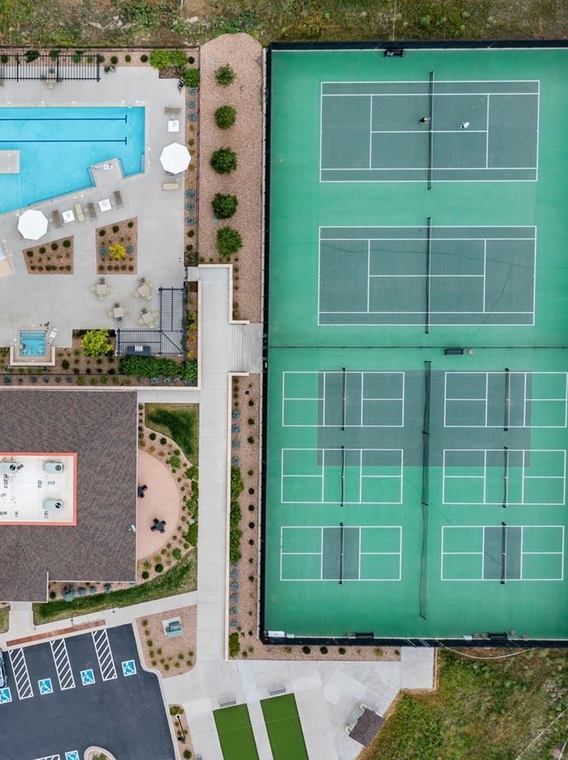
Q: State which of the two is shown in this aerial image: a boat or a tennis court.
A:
tennis court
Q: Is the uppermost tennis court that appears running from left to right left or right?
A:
right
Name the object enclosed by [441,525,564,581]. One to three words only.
sports court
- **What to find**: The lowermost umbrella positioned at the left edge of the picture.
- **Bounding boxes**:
[18,210,47,239]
